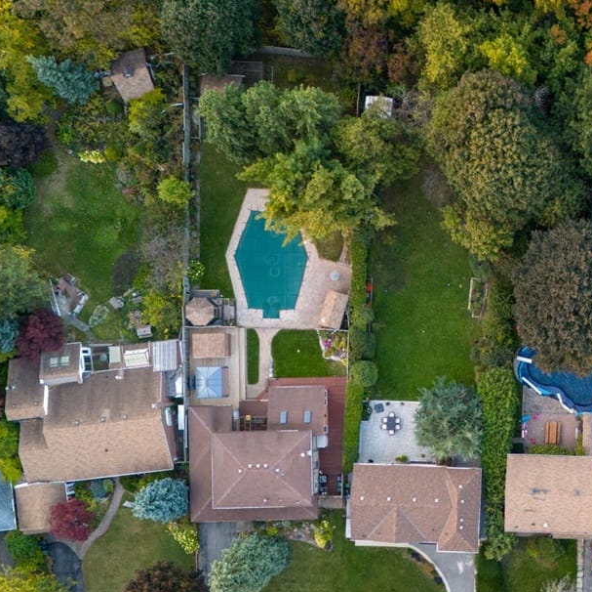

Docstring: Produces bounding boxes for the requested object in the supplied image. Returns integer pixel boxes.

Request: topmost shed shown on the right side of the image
[365,96,393,121]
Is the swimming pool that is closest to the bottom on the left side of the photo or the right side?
right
